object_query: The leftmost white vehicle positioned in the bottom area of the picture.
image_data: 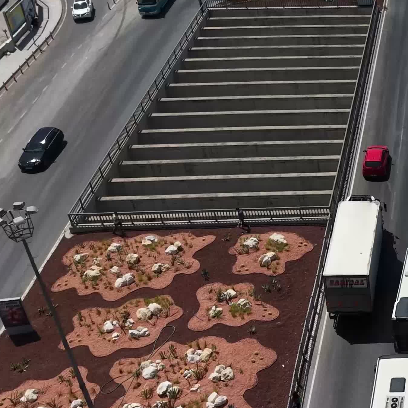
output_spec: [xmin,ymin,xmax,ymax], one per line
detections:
[324,198,389,323]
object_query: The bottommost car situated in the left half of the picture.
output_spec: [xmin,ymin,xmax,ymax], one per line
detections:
[19,129,63,167]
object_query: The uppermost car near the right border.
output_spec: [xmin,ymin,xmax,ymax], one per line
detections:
[364,145,391,177]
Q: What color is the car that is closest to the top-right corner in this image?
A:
red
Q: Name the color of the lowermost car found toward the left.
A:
black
